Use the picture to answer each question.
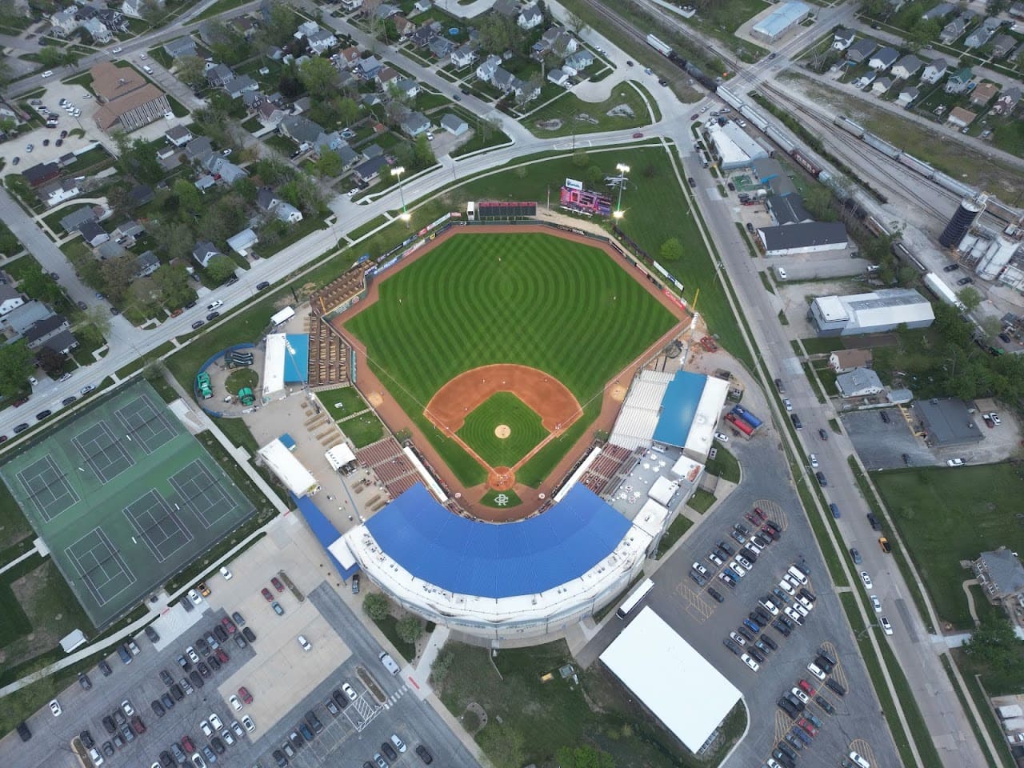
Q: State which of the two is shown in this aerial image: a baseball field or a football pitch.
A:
baseball field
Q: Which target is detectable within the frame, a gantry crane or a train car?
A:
train car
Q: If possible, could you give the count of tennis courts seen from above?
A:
6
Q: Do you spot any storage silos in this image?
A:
Yes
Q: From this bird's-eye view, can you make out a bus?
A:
Yes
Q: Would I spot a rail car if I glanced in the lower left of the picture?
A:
No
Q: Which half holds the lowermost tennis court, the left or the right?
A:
left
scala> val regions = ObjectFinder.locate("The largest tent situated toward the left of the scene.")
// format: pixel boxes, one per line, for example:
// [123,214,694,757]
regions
[326,444,359,479]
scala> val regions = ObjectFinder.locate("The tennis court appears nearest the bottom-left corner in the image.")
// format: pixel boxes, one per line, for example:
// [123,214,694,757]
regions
[65,527,136,606]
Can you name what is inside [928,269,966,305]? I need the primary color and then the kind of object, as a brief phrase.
white rail car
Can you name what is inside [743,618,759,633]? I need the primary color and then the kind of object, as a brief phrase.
blue car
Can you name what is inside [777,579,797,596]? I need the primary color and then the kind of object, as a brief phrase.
white vehicle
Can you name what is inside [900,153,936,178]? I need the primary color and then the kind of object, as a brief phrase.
gray rail car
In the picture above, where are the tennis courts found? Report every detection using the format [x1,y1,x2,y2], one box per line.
[71,417,135,481]
[15,454,81,523]
[115,394,178,455]
[65,527,136,606]
[122,486,192,559]
[168,459,237,528]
